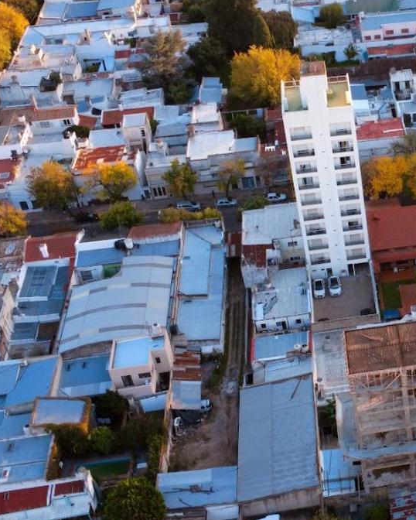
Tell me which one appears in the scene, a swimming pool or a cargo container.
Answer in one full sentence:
The image shows a swimming pool.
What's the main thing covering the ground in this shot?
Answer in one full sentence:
Most of the picture is covered by buildings.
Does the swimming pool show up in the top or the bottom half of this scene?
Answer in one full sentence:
The swimming pool sits in the bottom half of the picture.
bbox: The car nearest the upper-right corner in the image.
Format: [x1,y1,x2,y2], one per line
[260,188,287,202]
